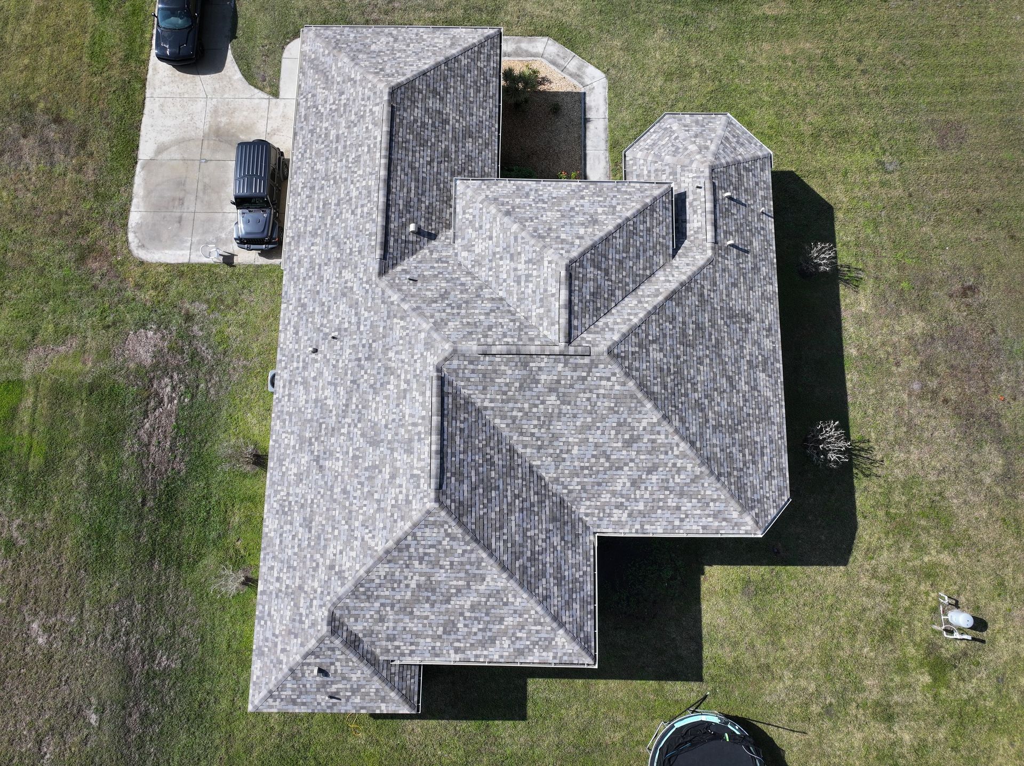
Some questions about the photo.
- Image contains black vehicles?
Yes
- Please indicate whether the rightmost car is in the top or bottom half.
top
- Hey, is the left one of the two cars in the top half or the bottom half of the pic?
top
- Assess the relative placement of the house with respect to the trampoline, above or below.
above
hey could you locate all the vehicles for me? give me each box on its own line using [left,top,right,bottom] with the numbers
[151,0,207,66]
[228,137,287,250]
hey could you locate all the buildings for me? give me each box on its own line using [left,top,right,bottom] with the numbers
[248,25,792,714]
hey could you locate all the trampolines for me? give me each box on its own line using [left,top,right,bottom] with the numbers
[645,694,764,766]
